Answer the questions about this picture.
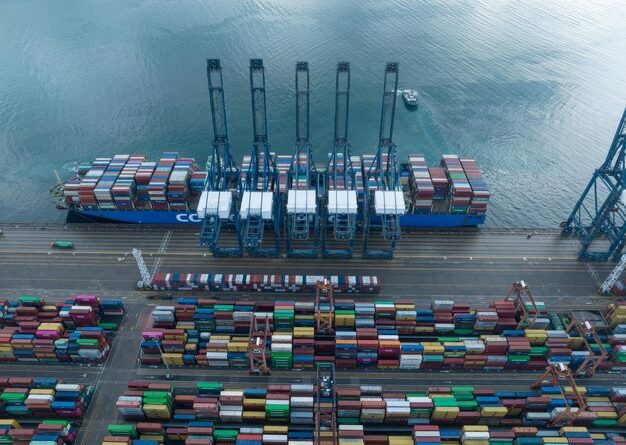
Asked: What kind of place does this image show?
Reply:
port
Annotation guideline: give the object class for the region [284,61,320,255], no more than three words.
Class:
container crane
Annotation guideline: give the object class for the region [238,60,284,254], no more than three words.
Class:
container crane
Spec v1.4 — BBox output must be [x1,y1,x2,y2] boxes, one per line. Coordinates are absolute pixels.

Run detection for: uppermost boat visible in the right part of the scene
[400,89,417,108]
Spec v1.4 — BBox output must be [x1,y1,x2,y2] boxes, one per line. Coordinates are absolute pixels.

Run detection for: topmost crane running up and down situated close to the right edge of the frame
[565,119,626,259]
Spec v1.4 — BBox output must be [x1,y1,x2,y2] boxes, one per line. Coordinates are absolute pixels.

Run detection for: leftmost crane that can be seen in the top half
[195,59,246,254]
